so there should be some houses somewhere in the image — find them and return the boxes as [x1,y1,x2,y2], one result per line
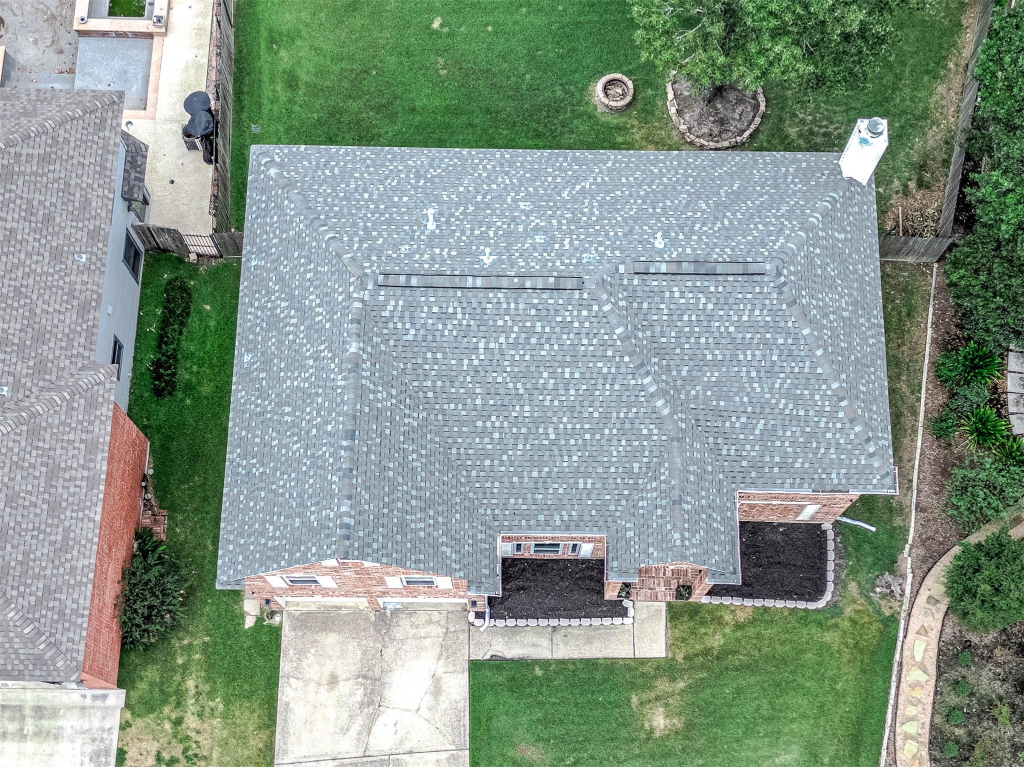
[0,87,166,686]
[216,113,897,631]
